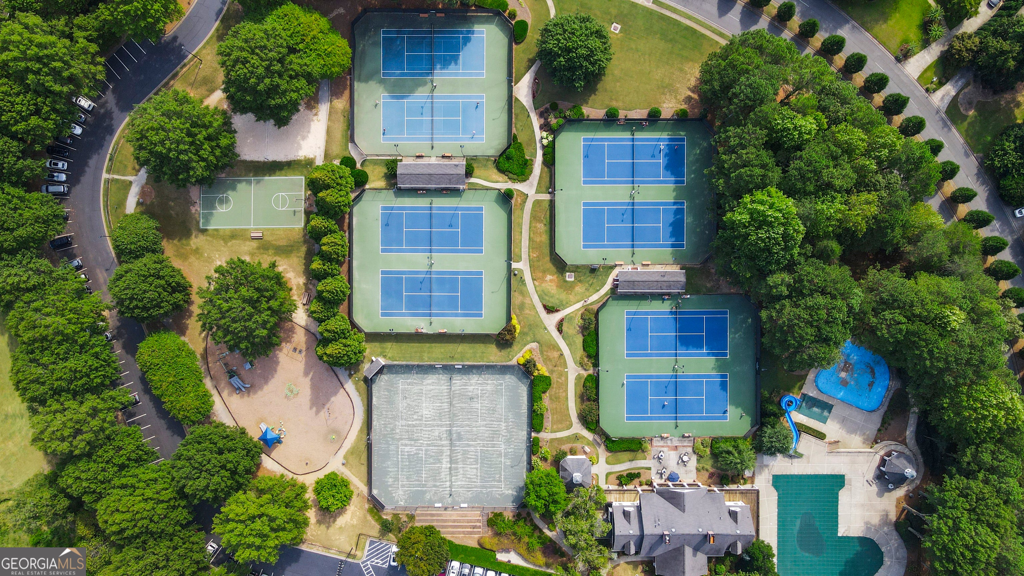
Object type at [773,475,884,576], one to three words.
swimming pool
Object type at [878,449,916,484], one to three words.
gazebo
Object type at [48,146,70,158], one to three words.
vehicle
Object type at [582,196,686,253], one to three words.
tennis court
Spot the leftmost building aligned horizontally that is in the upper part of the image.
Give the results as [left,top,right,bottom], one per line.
[396,159,467,190]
